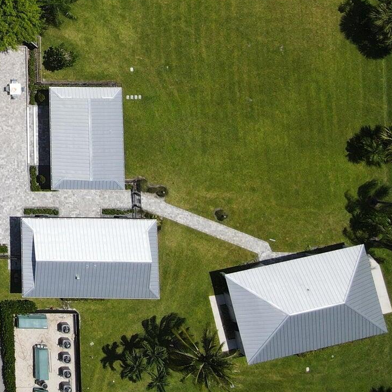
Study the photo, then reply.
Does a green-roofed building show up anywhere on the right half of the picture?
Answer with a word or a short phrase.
No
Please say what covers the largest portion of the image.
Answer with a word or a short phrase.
grass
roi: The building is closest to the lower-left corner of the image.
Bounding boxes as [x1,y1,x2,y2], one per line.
[17,215,160,300]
